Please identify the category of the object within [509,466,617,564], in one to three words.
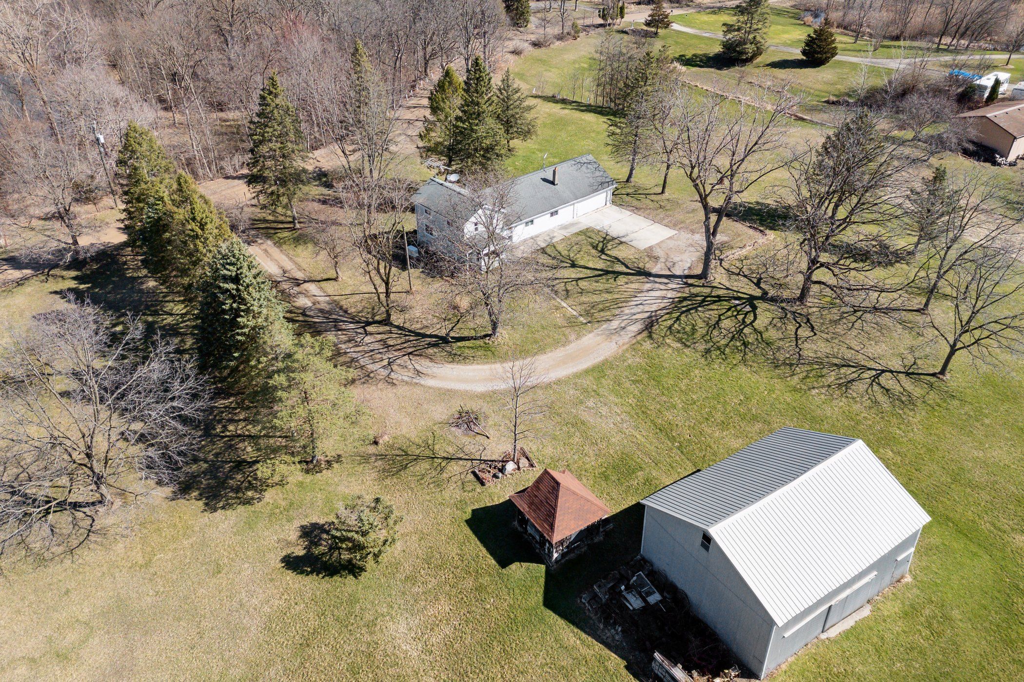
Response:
shed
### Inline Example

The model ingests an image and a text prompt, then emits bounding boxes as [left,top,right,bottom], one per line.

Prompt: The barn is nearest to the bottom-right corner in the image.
[638,423,933,679]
